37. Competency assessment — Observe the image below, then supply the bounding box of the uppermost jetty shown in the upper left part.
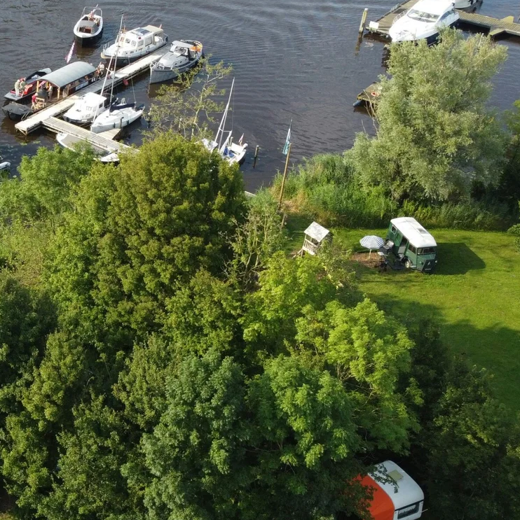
[11,53,166,140]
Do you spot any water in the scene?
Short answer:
Yes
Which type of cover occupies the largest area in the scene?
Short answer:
trees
